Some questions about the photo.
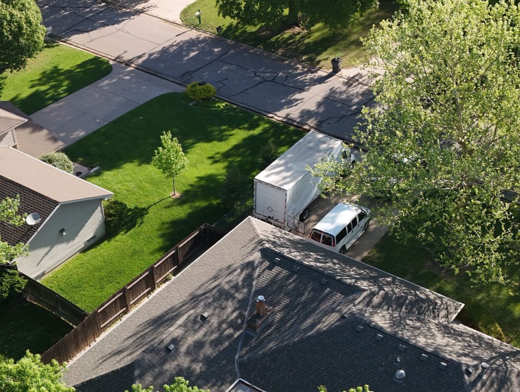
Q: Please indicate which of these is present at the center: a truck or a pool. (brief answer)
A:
truck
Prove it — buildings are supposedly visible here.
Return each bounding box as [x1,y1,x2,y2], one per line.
[39,214,520,392]
[0,100,116,283]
